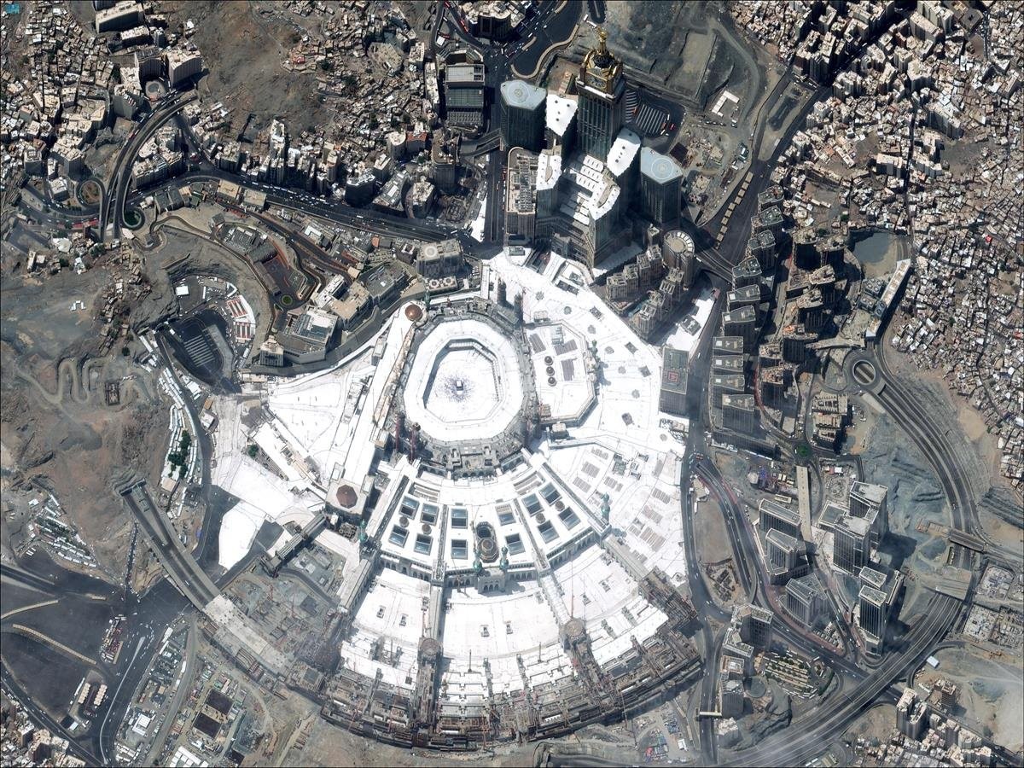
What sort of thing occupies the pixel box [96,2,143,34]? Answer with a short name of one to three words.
building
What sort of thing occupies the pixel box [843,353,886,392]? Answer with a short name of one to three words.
roundabout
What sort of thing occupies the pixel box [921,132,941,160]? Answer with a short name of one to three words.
building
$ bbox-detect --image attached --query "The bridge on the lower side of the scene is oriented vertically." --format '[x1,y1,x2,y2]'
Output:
[796,464,814,542]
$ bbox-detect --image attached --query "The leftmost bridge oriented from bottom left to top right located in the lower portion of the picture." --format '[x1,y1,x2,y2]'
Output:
[261,514,326,576]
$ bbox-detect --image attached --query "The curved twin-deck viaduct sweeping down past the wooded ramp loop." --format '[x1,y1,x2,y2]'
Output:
[97,88,196,242]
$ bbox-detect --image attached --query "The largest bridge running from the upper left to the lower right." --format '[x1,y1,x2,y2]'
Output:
[201,592,297,674]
